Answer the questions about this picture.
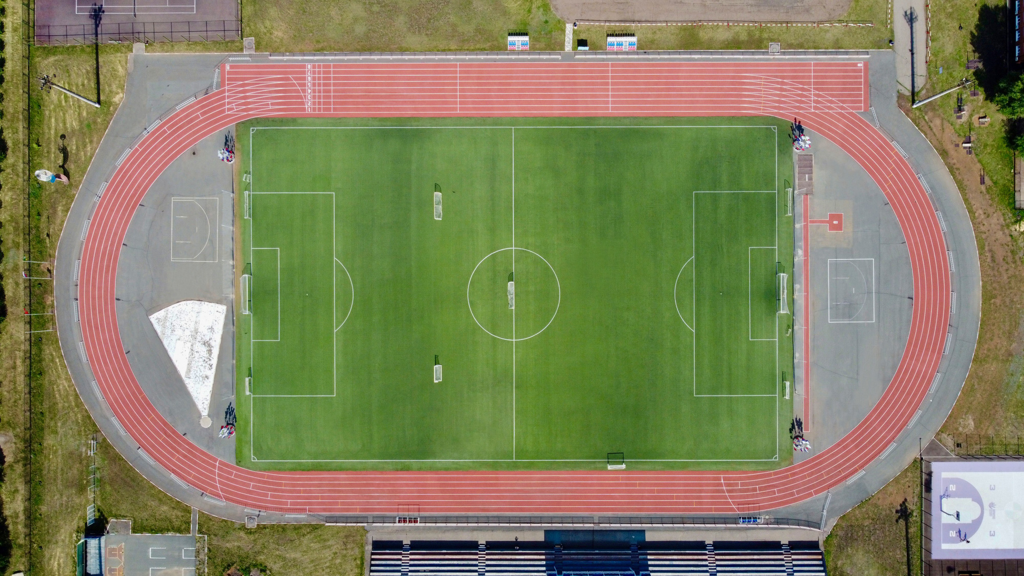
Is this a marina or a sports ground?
sports ground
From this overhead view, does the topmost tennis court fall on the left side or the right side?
left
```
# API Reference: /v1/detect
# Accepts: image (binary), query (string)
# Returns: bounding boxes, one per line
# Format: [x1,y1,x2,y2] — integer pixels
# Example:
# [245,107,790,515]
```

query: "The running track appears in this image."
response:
[78,61,951,513]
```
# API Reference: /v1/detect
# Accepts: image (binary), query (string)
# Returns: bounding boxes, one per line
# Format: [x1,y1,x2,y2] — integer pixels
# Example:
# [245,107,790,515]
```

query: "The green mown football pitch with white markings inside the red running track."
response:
[235,116,794,471]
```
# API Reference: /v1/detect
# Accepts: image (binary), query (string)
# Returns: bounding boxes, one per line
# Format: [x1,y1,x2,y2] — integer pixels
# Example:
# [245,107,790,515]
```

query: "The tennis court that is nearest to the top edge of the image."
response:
[35,0,242,45]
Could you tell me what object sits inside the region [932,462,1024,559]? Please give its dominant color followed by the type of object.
white basketball court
